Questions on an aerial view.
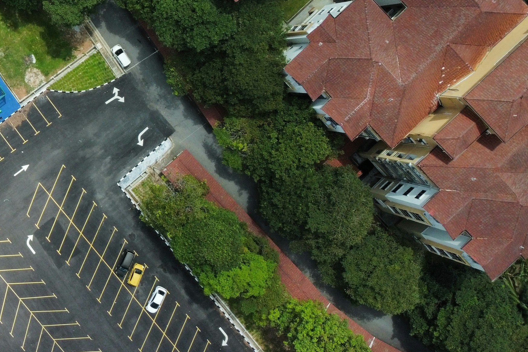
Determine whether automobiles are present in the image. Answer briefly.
Yes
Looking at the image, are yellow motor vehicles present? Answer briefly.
Yes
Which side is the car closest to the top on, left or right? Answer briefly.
left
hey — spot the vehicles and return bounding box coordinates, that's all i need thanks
[147,284,165,313]
[128,262,144,287]
[118,249,139,276]
[111,43,131,69]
